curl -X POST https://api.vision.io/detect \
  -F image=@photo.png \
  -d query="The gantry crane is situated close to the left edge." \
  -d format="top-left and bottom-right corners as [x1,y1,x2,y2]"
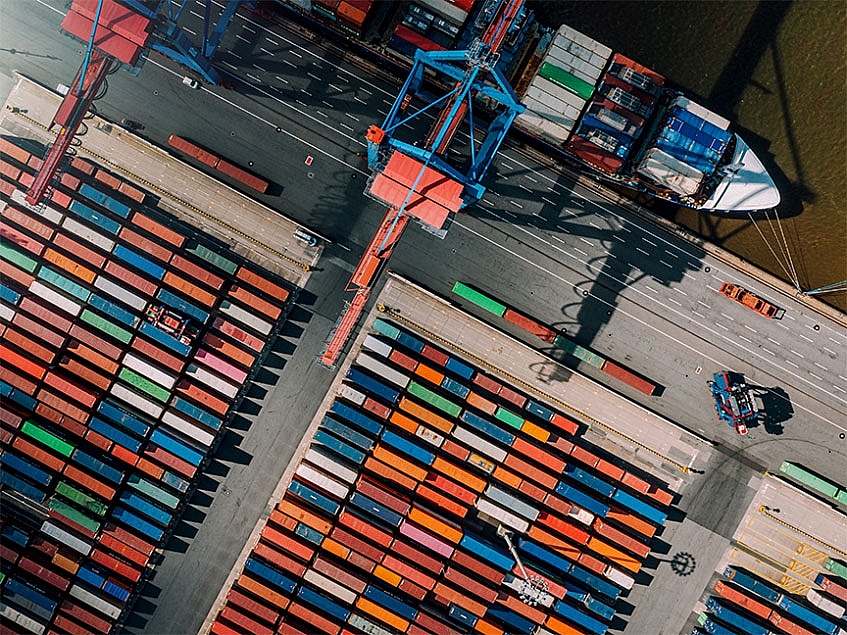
[10,0,300,211]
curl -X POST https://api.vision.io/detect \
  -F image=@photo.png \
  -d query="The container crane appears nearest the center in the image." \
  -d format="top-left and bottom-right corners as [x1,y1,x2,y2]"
[313,0,532,374]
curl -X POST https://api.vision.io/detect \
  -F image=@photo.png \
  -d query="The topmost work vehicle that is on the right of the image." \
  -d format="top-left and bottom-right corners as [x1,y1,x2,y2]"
[706,373,768,435]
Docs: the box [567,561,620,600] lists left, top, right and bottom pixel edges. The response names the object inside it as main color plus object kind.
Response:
blue shipping container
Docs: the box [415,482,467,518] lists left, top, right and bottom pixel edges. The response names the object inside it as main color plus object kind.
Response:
red shipping container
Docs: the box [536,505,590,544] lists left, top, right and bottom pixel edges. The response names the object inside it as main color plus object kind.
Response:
red shipping container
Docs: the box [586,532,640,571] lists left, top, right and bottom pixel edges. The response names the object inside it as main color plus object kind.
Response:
orange shipping container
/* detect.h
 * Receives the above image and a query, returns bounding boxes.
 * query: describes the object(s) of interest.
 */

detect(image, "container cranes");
[313,0,532,374]
[10,0,300,211]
